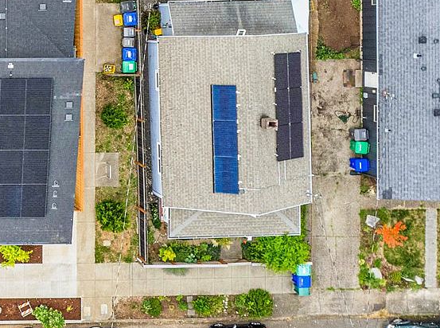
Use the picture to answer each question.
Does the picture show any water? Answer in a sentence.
No, no water is visible.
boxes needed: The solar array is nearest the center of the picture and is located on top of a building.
[212,86,241,196]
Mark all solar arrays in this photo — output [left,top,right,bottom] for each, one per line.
[275,52,305,161]
[212,86,241,196]
[0,80,55,223]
